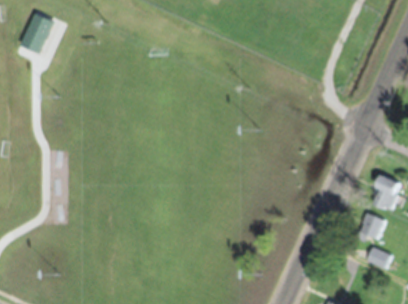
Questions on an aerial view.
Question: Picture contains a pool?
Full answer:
No, the picture doesn't show any pool.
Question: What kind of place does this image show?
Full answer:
The picture captures a sports ground.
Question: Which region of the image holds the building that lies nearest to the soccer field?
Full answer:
The building that lies nearest to the soccer field appears toward the top left of the photo.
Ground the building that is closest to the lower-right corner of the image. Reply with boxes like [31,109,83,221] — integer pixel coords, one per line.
[368,246,394,268]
